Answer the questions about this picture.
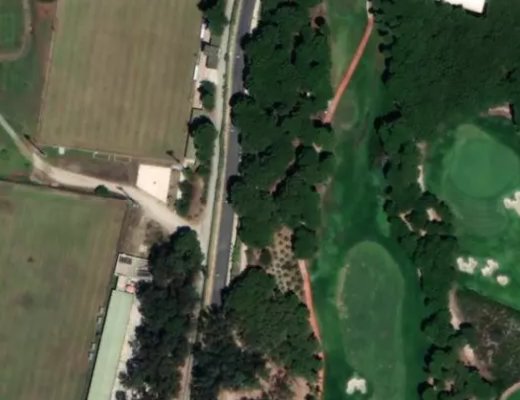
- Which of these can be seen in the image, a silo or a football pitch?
football pitch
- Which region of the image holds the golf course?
right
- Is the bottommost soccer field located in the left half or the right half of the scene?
left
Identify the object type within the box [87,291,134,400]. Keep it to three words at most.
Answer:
building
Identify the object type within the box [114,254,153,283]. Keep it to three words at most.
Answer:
building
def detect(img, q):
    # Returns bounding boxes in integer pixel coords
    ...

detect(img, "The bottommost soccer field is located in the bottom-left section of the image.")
[0,183,126,400]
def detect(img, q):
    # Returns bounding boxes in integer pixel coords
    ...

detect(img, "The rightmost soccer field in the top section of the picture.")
[38,0,202,160]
